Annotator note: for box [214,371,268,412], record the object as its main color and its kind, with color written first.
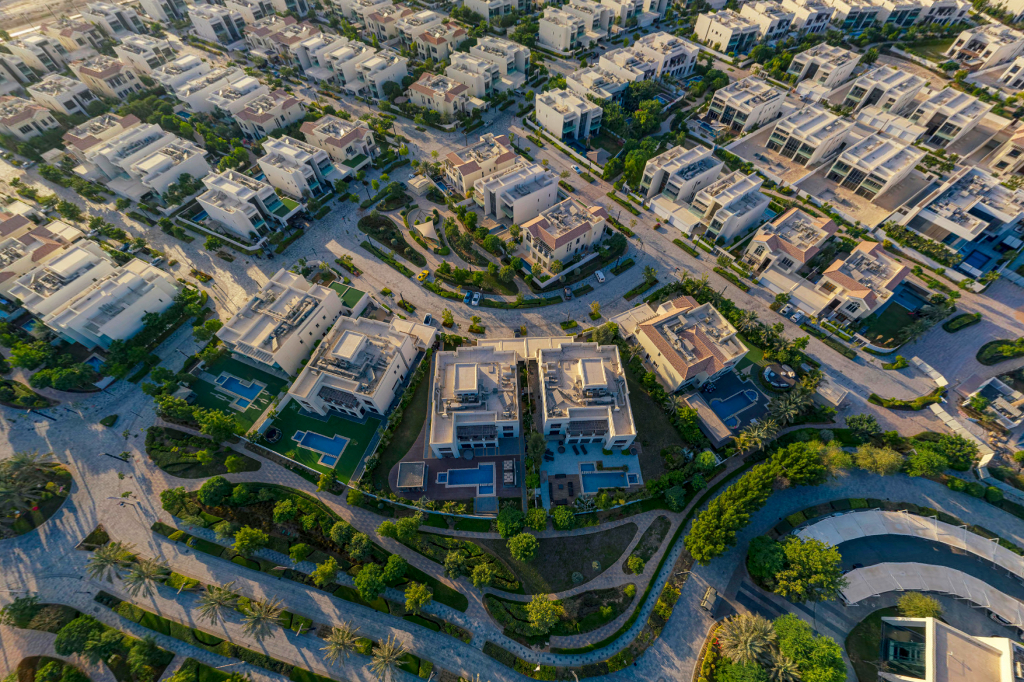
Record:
blue swimming pool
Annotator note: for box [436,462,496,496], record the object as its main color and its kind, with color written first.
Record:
blue swimming pool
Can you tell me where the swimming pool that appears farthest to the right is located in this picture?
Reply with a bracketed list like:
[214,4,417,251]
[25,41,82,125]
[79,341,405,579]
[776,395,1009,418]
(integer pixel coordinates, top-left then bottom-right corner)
[966,250,994,270]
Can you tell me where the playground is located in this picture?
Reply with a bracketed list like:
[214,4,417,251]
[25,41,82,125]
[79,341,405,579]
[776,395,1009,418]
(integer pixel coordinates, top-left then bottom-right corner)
[410,202,443,247]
